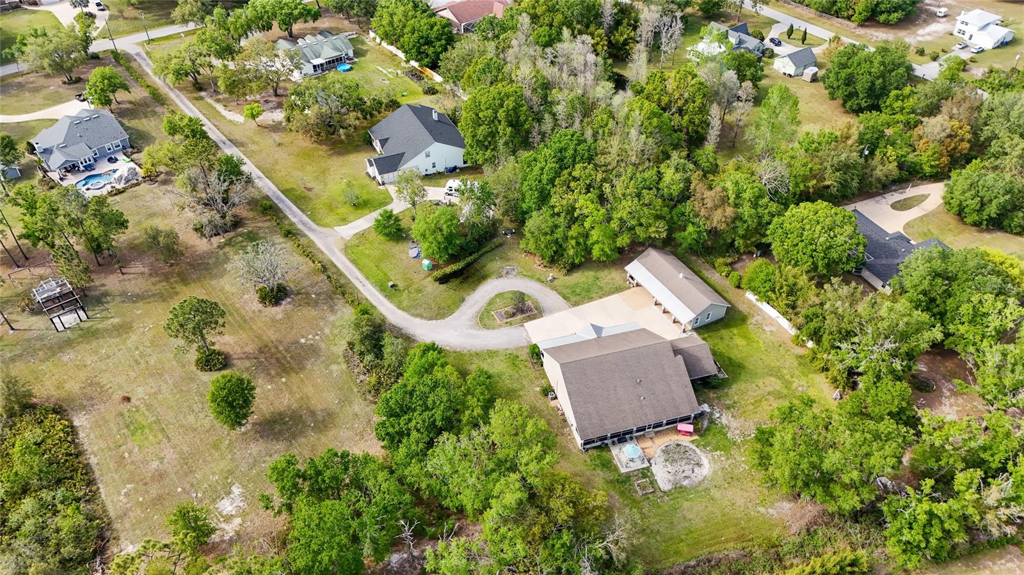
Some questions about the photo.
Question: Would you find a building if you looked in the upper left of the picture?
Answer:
Yes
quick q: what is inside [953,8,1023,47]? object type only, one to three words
house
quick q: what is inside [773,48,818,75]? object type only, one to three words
barn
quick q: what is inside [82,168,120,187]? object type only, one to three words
swimming pool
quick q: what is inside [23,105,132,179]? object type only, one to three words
house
